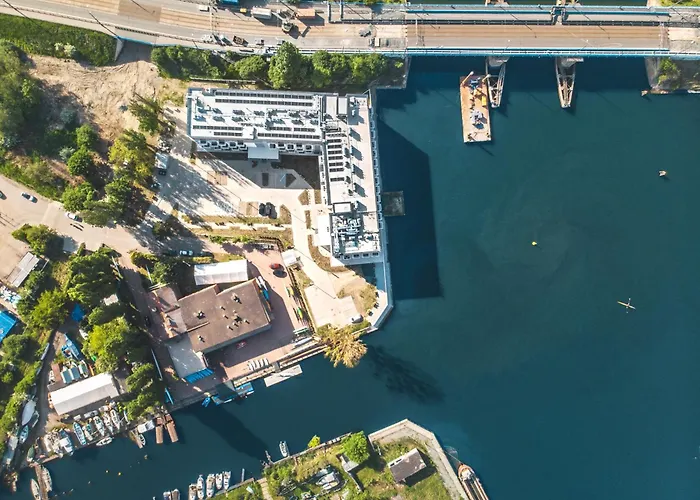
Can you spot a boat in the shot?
Yes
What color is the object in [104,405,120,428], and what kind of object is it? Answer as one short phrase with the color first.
white boat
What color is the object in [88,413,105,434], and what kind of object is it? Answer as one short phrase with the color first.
white boat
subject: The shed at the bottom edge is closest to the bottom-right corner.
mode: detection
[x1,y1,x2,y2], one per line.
[388,447,427,483]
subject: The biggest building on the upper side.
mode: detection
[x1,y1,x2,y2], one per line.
[188,88,386,263]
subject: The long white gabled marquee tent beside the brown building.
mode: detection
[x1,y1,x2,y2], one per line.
[193,259,250,286]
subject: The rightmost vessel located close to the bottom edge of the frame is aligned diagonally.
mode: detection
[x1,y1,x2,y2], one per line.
[453,449,492,500]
